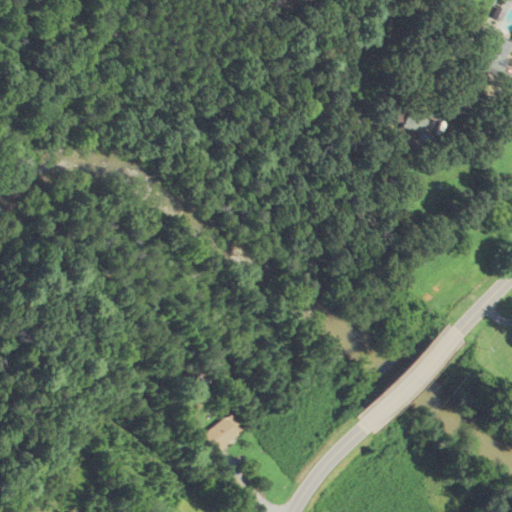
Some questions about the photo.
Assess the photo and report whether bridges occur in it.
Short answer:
Yes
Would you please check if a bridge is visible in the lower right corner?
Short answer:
Yes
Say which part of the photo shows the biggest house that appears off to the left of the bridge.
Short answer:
bottom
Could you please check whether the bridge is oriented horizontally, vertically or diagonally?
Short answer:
diagonally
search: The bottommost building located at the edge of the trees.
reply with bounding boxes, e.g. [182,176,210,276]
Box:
[208,415,242,454]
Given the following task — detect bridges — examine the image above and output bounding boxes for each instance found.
[358,324,467,437]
